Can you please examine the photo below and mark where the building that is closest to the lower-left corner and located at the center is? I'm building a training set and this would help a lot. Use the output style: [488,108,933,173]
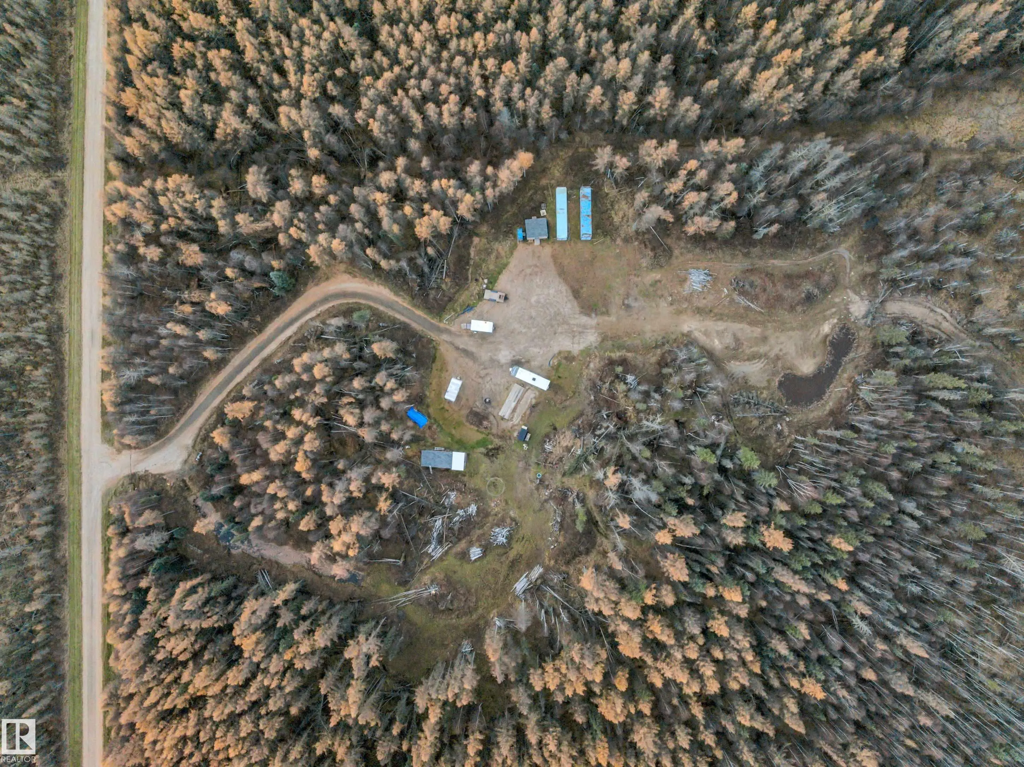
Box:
[421,450,469,470]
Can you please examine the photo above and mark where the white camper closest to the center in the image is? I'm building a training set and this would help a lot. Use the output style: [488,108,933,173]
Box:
[508,366,550,390]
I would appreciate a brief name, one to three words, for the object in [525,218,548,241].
shed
